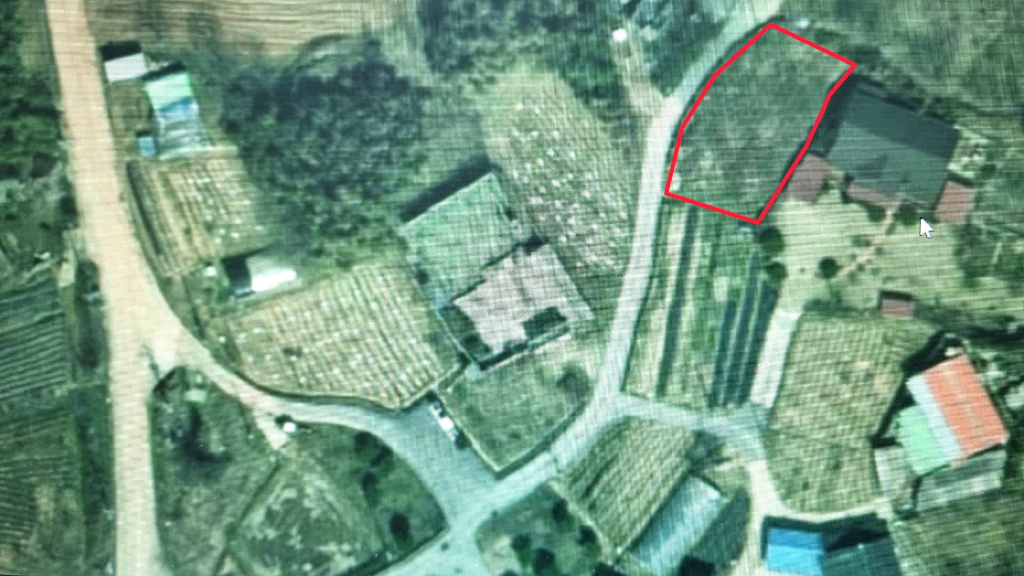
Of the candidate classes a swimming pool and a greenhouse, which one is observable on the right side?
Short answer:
greenhouse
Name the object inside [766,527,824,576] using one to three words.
house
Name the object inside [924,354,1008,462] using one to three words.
barn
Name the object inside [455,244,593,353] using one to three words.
shed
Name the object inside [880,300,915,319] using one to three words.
shed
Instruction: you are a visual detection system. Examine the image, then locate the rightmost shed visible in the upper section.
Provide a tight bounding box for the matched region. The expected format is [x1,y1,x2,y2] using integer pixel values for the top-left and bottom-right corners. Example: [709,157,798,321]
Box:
[935,180,975,226]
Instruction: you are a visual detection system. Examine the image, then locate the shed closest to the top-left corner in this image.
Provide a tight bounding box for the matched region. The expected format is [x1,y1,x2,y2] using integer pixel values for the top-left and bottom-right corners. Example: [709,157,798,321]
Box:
[104,52,148,83]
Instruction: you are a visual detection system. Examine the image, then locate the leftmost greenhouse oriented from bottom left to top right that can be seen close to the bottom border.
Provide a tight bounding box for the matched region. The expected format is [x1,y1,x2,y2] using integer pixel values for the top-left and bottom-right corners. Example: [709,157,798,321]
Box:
[624,475,725,576]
